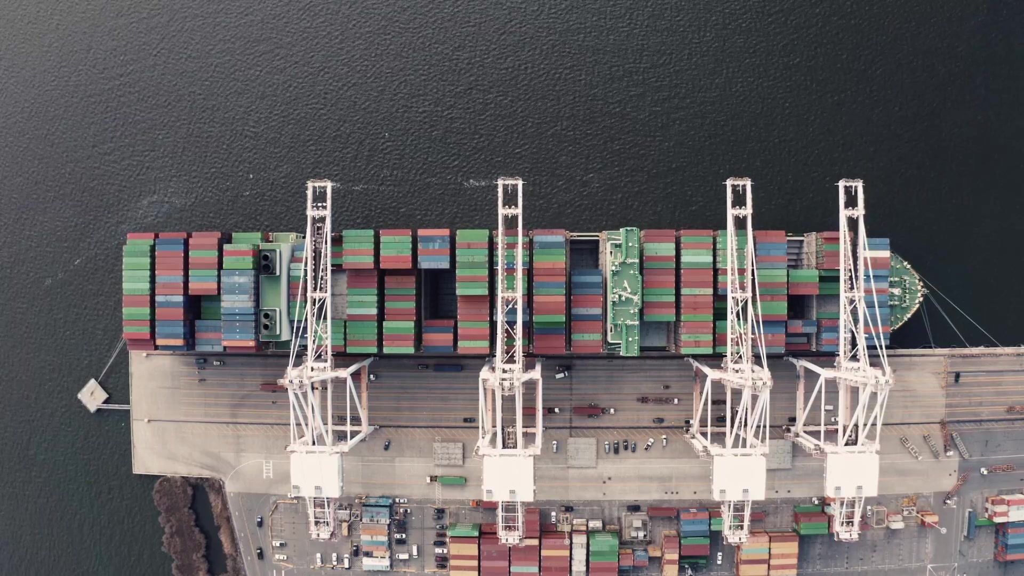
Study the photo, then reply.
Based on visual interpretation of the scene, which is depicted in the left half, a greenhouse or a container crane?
container crane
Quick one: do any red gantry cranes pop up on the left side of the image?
No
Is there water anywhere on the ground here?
Yes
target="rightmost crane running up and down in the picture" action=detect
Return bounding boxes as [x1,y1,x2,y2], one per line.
[772,174,891,549]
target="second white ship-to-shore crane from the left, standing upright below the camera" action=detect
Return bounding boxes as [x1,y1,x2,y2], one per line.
[473,177,551,549]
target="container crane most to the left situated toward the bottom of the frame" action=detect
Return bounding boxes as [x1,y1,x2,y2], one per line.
[285,178,384,547]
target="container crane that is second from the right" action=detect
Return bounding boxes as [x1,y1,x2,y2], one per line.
[675,176,771,549]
